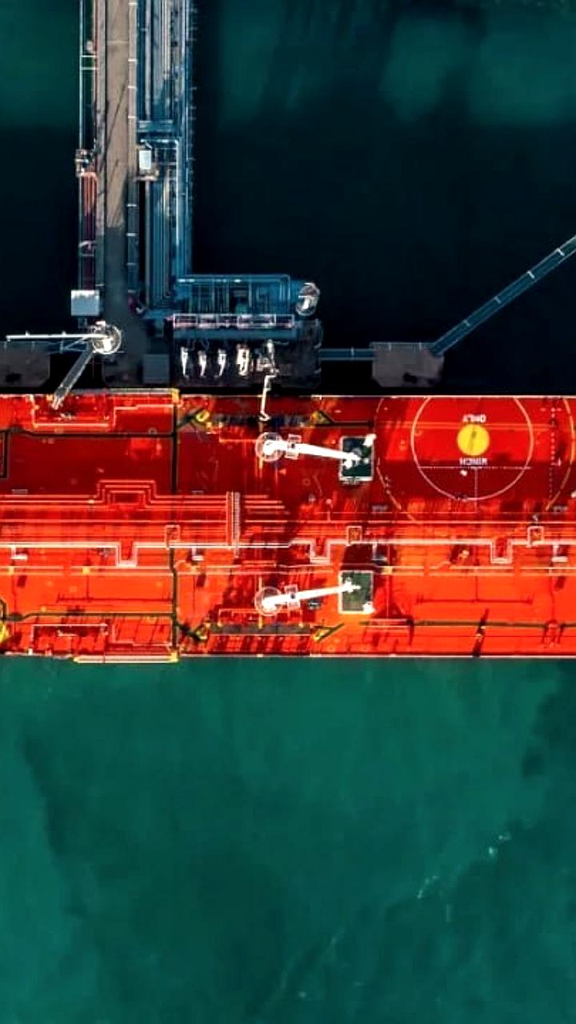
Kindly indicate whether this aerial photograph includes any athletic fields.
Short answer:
No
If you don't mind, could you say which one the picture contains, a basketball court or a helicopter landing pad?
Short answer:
helicopter landing pad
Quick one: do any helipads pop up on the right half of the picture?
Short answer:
Yes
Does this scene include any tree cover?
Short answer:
No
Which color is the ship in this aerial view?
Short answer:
red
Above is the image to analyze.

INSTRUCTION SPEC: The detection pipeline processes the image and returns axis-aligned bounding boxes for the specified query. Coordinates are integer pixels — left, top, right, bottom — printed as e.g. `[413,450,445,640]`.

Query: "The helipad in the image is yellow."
[373,399,574,524]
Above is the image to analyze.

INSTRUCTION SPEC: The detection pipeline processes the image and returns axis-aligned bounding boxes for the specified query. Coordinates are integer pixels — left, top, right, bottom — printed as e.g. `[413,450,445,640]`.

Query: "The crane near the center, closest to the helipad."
[258,433,364,467]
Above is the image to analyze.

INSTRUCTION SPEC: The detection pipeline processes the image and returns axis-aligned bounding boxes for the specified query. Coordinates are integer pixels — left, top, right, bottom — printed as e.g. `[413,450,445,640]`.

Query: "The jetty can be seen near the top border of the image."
[96,0,139,314]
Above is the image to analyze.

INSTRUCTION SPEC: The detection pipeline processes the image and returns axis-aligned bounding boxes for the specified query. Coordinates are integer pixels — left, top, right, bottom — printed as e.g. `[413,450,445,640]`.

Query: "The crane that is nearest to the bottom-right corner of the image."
[258,583,359,613]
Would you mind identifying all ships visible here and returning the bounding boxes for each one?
[0,386,576,664]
